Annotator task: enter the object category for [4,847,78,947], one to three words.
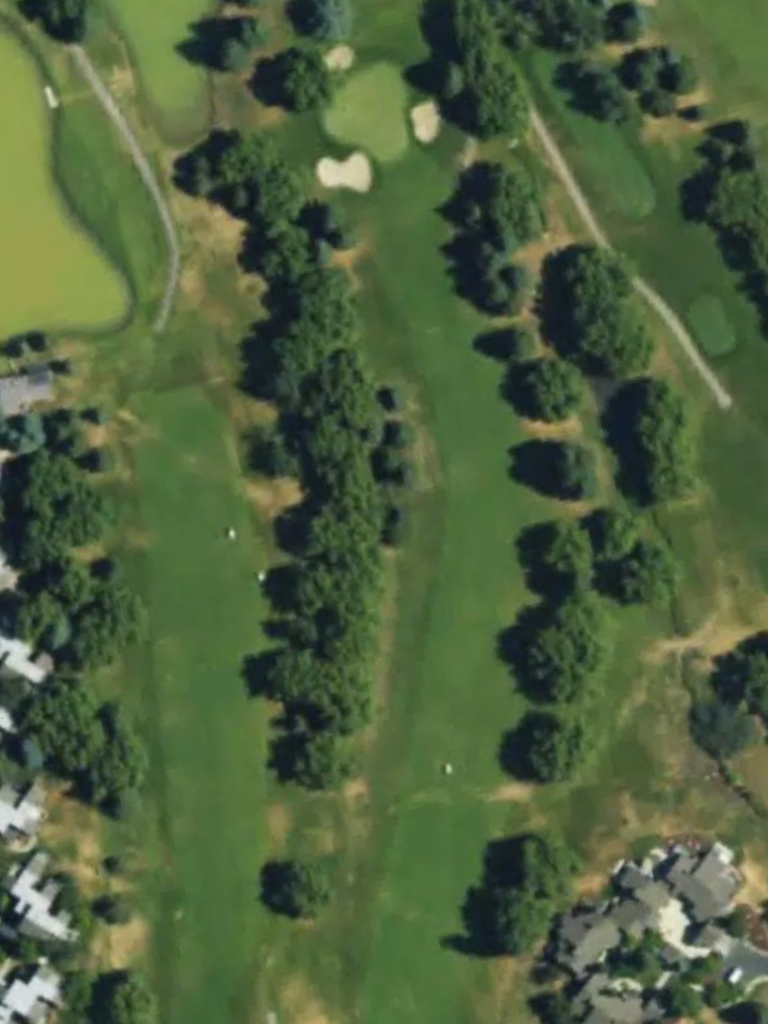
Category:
house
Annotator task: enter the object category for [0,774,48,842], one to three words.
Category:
house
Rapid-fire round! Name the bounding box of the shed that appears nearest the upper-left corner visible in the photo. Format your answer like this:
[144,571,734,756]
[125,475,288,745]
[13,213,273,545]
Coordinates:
[0,365,55,417]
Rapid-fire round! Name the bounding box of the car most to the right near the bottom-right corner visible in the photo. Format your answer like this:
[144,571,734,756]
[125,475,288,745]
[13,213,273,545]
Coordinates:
[730,967,742,983]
